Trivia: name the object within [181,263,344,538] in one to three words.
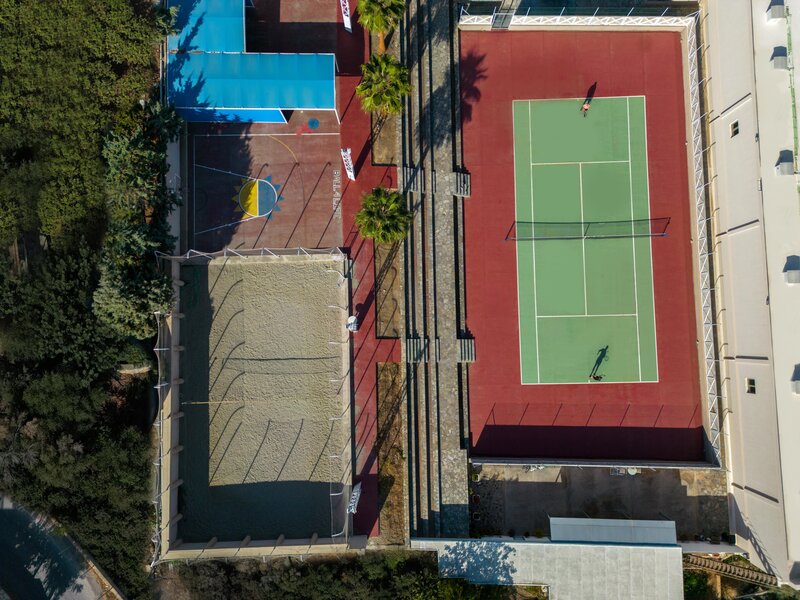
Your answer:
sports court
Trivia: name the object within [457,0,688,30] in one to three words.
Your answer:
sports court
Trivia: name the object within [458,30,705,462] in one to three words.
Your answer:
tennis court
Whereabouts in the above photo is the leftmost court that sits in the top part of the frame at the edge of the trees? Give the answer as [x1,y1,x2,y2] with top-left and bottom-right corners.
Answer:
[175,0,342,255]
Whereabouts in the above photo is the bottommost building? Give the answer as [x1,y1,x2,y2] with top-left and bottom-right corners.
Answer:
[410,531,688,600]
